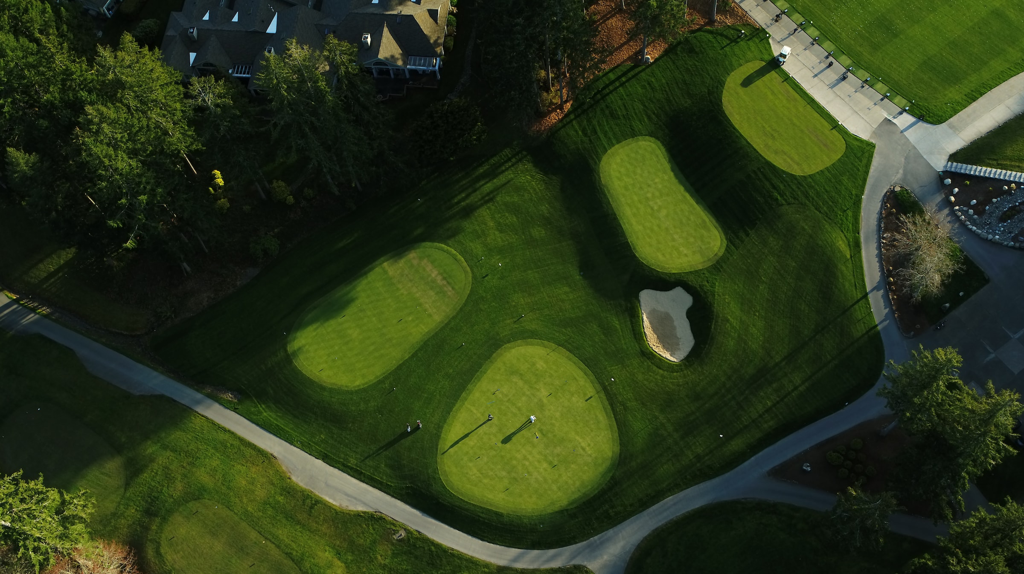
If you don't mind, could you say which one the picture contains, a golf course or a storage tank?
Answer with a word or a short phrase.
golf course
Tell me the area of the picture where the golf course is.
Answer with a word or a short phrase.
center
